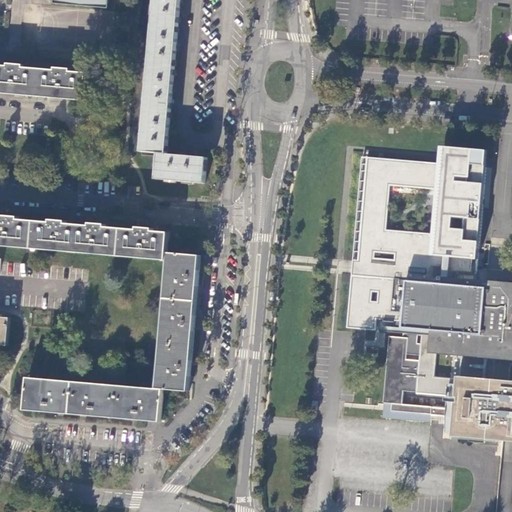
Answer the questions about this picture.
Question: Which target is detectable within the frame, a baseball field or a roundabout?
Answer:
roundabout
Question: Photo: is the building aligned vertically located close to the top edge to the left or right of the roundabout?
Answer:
to the left of it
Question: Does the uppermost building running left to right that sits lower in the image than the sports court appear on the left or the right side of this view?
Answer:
left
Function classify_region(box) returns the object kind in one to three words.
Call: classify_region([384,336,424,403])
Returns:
building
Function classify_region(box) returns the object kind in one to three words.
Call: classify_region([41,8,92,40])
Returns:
sports court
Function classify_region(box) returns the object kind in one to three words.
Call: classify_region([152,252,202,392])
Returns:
building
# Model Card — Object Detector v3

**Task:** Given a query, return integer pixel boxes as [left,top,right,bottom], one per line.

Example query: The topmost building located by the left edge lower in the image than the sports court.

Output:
[0,64,80,101]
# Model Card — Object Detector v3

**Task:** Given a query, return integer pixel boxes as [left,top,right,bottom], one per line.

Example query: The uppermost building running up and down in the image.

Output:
[136,0,184,154]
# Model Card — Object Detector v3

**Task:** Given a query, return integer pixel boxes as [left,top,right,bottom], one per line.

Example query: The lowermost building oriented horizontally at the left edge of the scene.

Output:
[20,377,165,422]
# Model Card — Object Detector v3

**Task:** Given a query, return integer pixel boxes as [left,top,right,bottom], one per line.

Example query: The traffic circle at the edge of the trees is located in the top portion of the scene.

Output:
[246,40,314,124]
